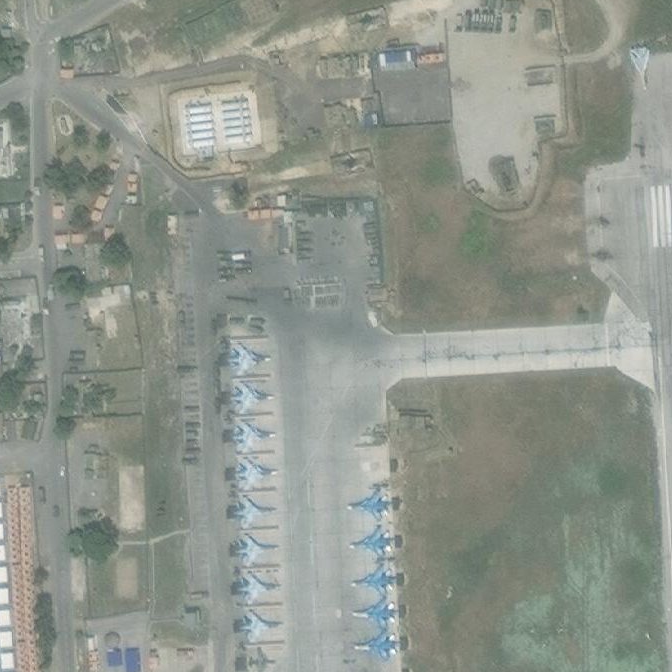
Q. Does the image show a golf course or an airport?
airport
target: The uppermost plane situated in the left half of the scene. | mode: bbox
[226,347,272,376]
